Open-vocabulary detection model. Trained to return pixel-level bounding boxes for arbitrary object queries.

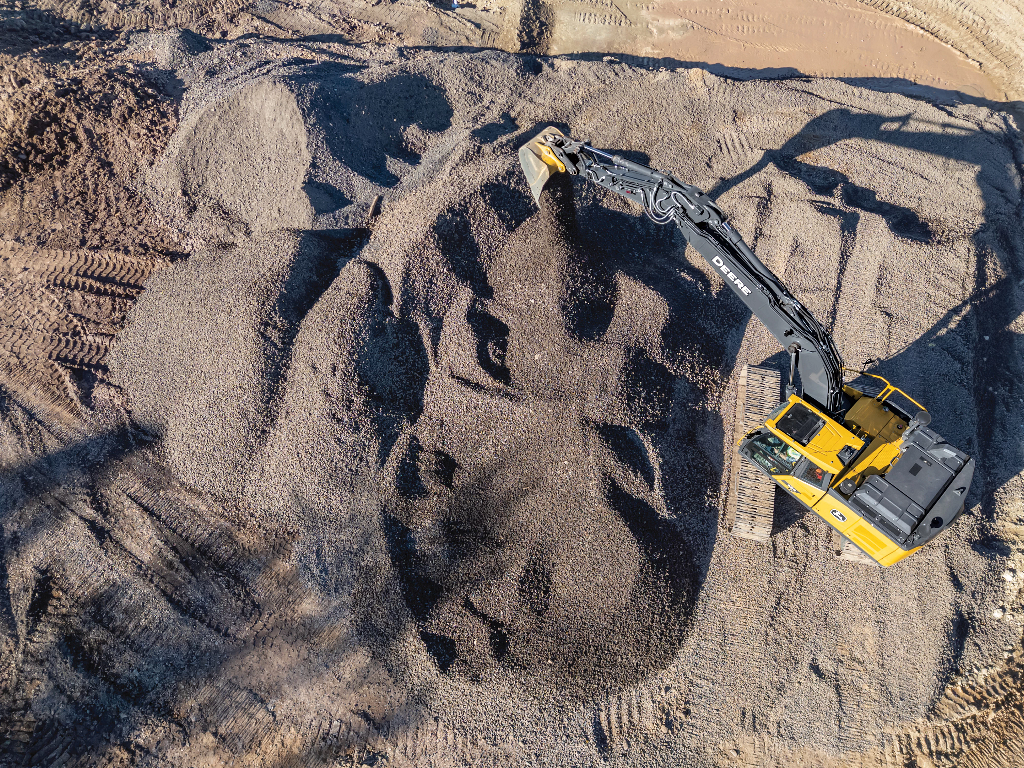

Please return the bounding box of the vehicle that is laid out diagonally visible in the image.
[518,119,972,570]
